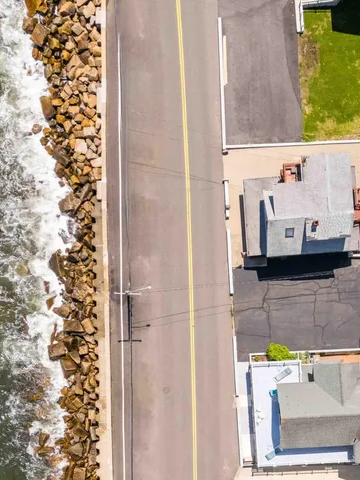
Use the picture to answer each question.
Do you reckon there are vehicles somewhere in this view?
No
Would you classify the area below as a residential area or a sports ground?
residential area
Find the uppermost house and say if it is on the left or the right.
right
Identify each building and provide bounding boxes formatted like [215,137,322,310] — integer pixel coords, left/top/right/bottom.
[250,352,360,468]
[296,0,341,39]
[243,152,360,262]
